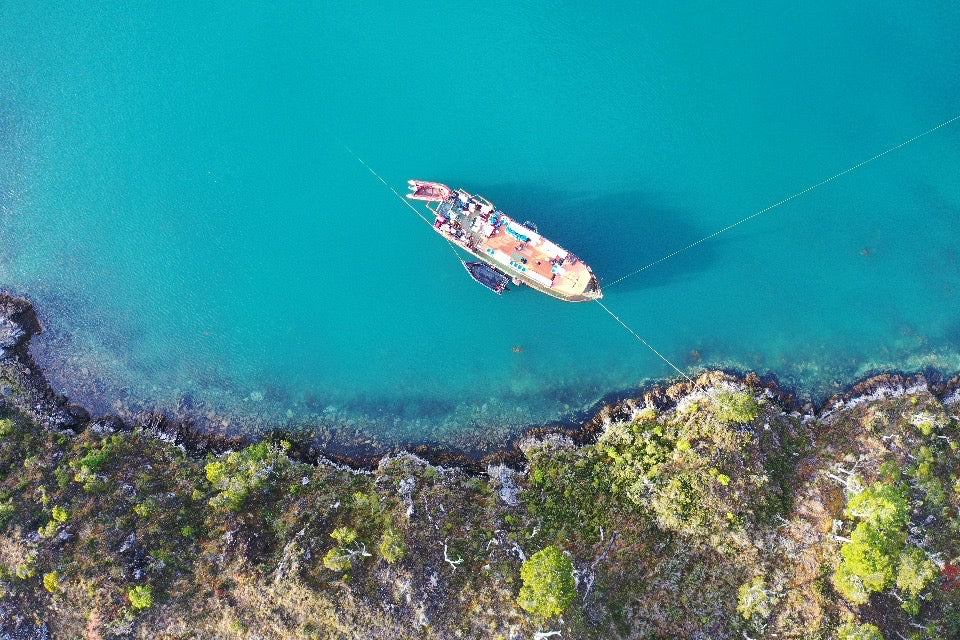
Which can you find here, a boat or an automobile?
boat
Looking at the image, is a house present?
No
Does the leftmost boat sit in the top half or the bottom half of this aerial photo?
top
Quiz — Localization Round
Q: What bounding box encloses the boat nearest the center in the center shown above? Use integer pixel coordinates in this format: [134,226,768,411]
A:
[464,260,513,295]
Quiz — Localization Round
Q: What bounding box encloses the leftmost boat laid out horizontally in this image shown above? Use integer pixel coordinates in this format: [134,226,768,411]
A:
[405,178,452,201]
